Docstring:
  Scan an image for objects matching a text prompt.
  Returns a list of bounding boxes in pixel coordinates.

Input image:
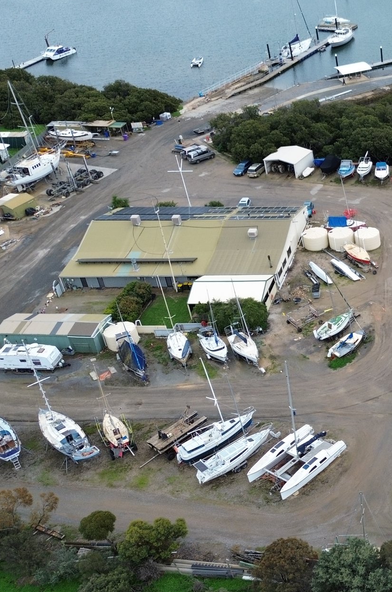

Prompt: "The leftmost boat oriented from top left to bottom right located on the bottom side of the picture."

[17,340,94,471]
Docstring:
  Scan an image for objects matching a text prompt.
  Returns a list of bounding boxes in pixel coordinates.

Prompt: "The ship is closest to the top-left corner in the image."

[43,42,78,64]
